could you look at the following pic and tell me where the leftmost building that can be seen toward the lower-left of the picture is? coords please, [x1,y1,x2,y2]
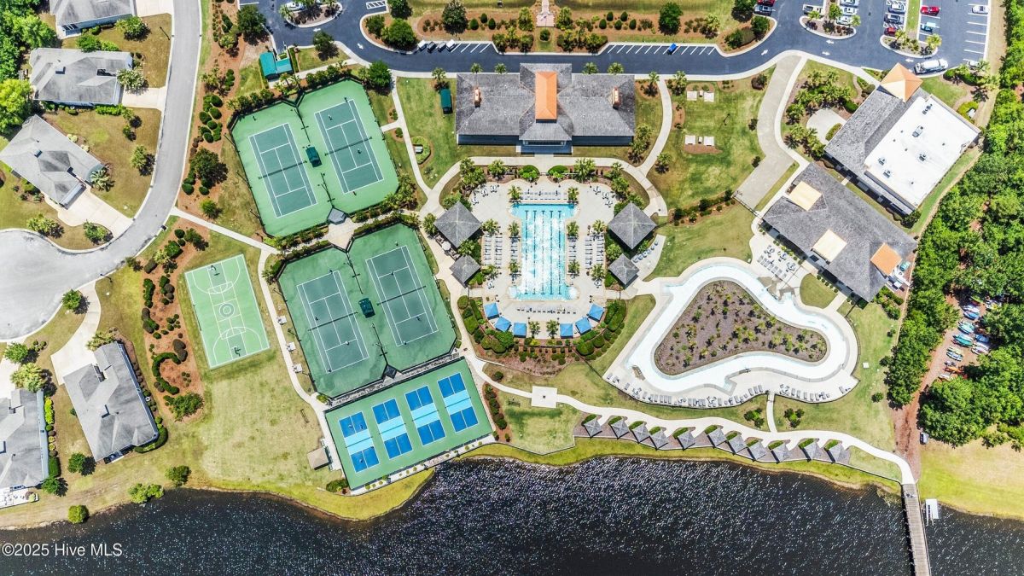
[0,388,50,486]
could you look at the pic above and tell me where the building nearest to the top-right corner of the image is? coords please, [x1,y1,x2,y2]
[822,62,982,214]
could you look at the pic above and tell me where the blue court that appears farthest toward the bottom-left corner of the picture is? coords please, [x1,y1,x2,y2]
[339,411,379,473]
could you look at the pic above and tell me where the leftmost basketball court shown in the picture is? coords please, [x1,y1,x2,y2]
[184,254,270,369]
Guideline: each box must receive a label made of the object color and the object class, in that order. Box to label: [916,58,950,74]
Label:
white vehicle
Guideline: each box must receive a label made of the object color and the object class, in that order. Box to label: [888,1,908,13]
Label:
white vehicle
